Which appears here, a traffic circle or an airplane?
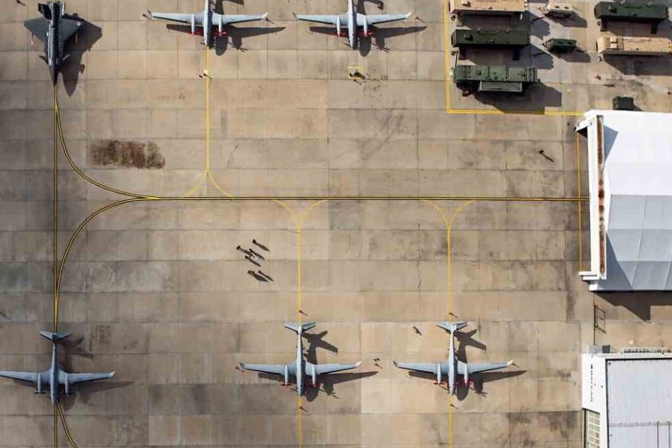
airplane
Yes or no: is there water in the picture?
No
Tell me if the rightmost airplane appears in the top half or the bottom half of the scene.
bottom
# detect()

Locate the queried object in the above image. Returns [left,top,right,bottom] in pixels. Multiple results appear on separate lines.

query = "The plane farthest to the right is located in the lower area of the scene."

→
[393,323,512,395]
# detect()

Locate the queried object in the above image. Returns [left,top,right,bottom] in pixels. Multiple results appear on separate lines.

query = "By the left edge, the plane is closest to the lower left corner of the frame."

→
[0,330,113,402]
